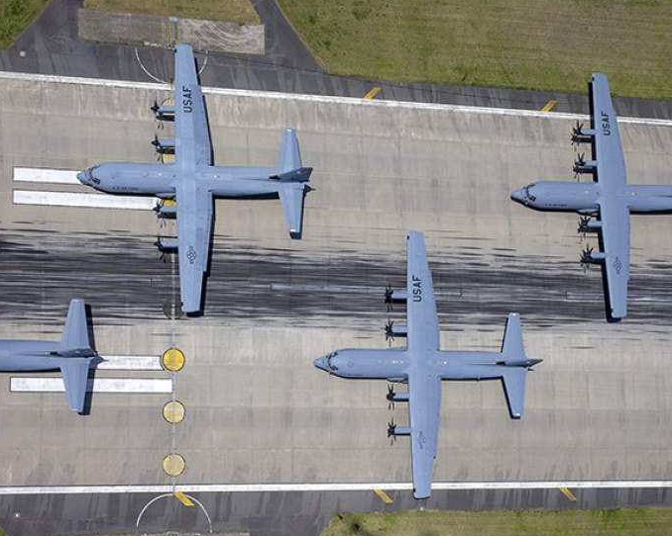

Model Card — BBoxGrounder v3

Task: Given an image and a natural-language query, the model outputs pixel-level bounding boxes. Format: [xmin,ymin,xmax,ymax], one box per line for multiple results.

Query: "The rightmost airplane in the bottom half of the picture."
[311,231,542,498]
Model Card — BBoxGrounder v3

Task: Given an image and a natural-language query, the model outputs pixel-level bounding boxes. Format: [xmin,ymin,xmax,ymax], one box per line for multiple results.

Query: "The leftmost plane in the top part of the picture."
[76,44,313,311]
